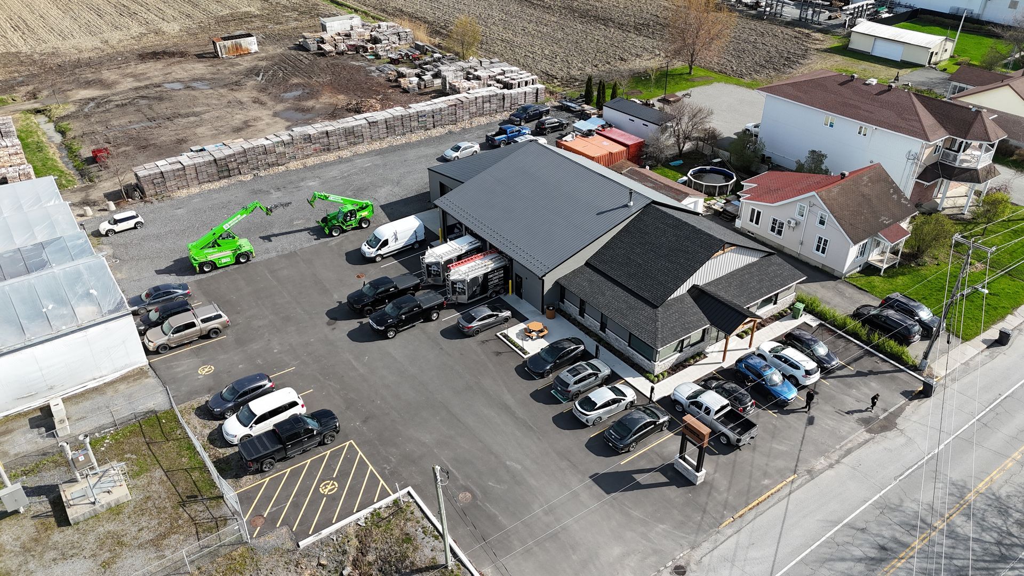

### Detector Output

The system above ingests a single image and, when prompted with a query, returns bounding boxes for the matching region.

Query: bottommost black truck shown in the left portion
[235,410,342,474]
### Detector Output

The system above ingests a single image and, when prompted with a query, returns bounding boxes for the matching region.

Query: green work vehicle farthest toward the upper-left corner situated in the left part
[178,202,295,276]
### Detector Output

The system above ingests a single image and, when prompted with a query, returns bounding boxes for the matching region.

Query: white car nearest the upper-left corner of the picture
[99,210,144,236]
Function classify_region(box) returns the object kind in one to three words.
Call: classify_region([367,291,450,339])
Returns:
truck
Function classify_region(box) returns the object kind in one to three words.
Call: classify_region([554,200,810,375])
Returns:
building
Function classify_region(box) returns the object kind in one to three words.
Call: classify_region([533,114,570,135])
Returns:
car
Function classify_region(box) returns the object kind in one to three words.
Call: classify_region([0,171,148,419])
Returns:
greenhouse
